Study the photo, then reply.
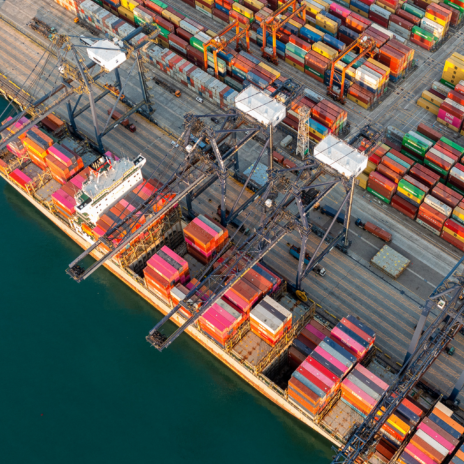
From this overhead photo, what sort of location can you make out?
port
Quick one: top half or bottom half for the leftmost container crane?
top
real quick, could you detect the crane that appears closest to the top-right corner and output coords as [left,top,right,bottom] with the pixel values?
[327,32,377,101]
